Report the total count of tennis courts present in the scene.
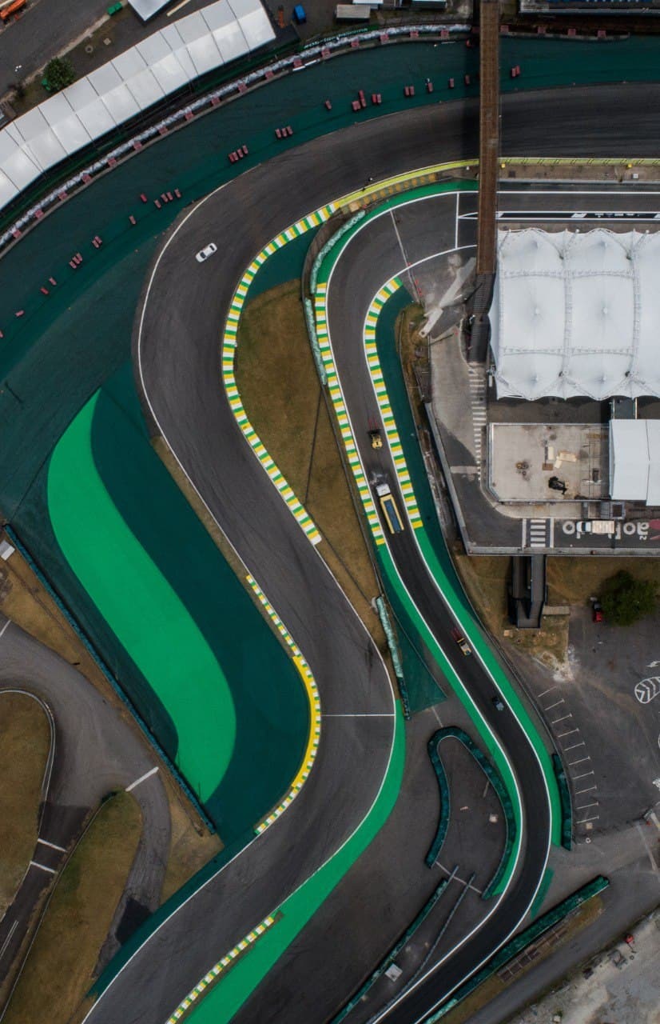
none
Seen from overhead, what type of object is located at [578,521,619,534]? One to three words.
vehicle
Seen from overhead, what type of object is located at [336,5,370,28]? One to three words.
building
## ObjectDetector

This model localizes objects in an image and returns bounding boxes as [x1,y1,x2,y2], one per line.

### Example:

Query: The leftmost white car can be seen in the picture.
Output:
[196,244,219,263]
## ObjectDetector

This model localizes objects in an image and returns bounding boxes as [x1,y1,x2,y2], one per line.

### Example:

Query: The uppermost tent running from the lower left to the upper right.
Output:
[0,0,281,219]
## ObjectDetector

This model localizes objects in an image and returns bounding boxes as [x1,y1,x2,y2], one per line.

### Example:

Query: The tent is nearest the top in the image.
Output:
[128,0,175,26]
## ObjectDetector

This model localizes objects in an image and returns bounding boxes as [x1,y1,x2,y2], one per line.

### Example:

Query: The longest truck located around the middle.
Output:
[378,483,403,533]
